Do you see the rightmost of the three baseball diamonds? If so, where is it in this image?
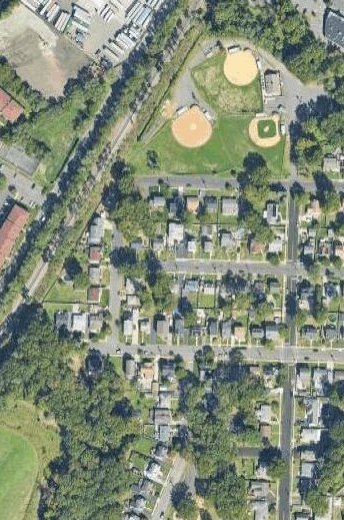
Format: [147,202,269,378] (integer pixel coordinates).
[249,115,280,148]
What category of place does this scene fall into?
residential area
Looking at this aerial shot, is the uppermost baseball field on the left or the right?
right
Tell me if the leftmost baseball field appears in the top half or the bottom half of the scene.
top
